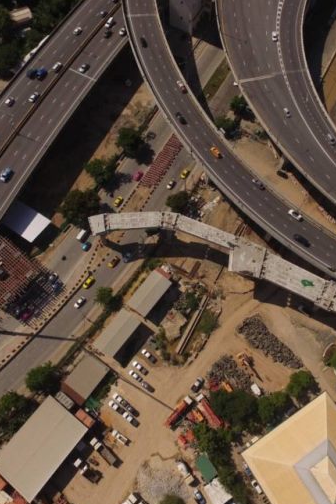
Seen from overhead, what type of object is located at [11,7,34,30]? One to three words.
shed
